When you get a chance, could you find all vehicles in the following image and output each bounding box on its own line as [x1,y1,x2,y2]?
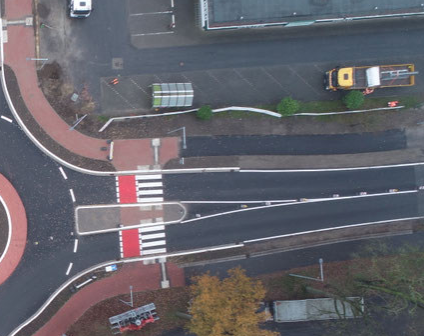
[252,296,369,324]
[67,0,93,21]
[320,64,418,92]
